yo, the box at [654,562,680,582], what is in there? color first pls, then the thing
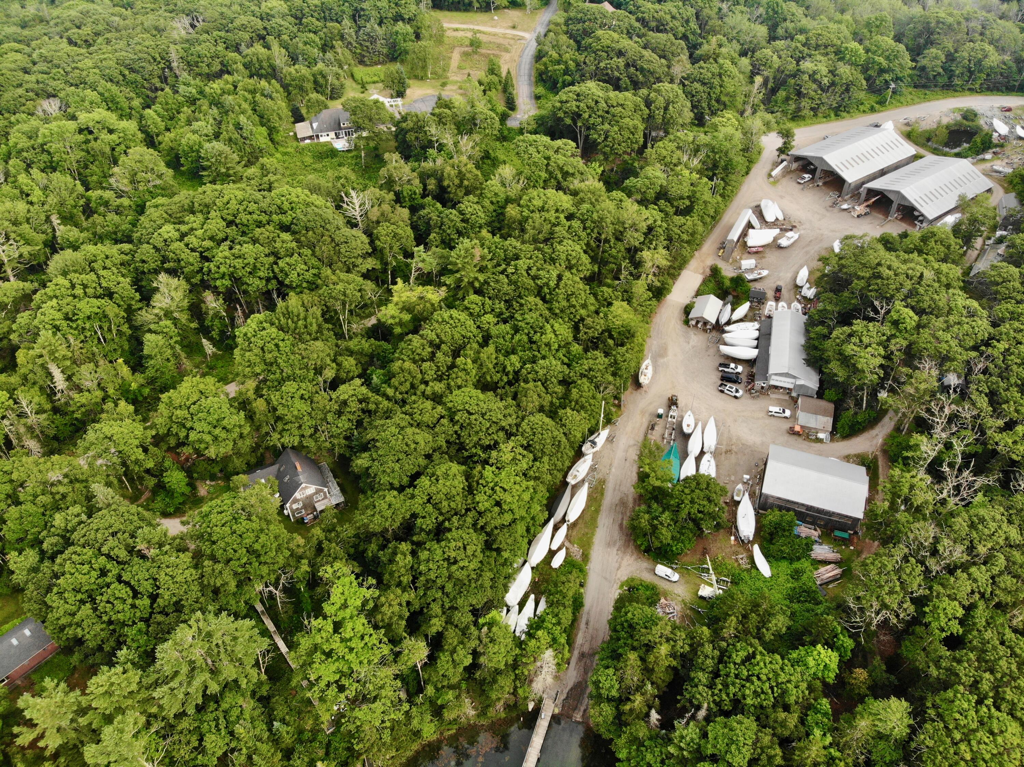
white vehicle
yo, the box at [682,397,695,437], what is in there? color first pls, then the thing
white boat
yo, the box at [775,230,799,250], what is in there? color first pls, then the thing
white boat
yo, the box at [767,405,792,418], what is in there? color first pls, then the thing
white vehicle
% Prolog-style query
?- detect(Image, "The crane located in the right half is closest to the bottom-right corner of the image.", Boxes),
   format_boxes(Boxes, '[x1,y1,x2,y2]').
[695,554,721,602]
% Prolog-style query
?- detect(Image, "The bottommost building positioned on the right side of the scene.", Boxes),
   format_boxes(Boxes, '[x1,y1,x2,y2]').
[755,444,869,533]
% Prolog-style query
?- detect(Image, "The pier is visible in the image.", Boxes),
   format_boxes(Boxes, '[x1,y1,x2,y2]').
[522,687,560,767]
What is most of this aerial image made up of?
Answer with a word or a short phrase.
trees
